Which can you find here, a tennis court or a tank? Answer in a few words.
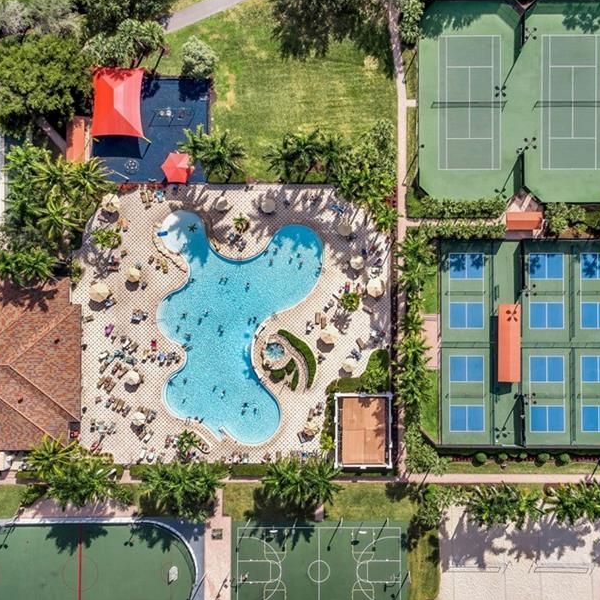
tennis court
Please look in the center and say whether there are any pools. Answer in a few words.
Yes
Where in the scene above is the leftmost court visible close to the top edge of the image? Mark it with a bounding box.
[418,0,523,200]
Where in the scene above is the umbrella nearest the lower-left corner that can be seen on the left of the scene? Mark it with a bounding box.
[132,410,147,425]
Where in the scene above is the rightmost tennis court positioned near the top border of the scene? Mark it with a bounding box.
[523,0,600,200]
